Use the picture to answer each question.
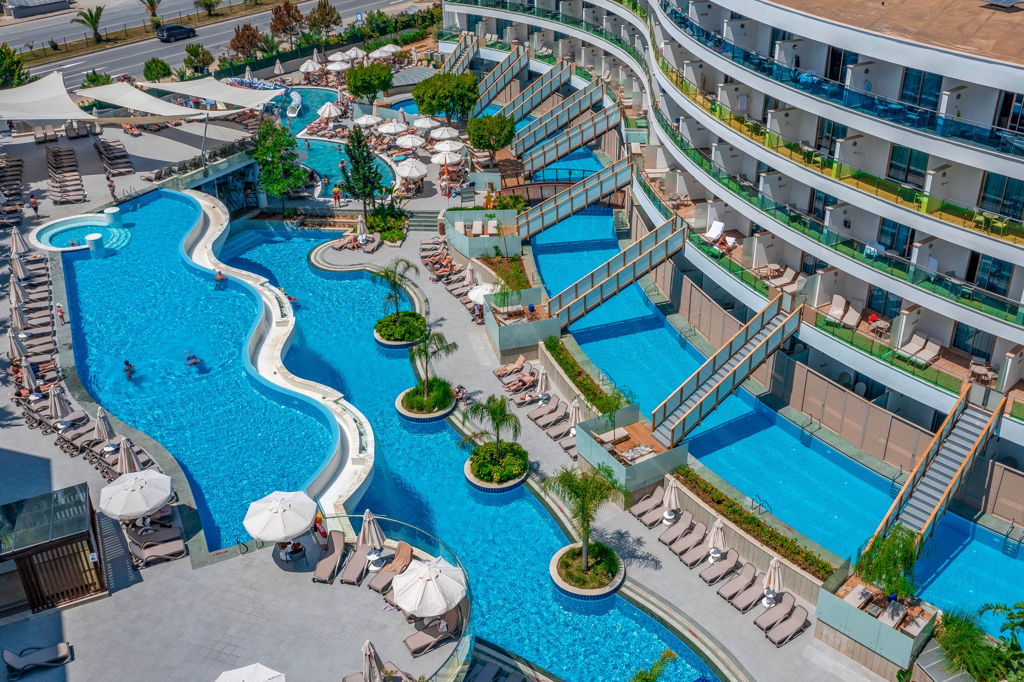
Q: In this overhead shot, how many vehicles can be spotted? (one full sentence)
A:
In total, 1 vehicle can be seen.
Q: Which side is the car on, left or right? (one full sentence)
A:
The car is on the left side of the image.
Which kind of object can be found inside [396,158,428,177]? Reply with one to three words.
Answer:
umbrella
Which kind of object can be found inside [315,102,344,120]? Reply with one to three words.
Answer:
umbrella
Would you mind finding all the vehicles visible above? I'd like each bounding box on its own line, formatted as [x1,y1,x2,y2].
[151,20,202,43]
